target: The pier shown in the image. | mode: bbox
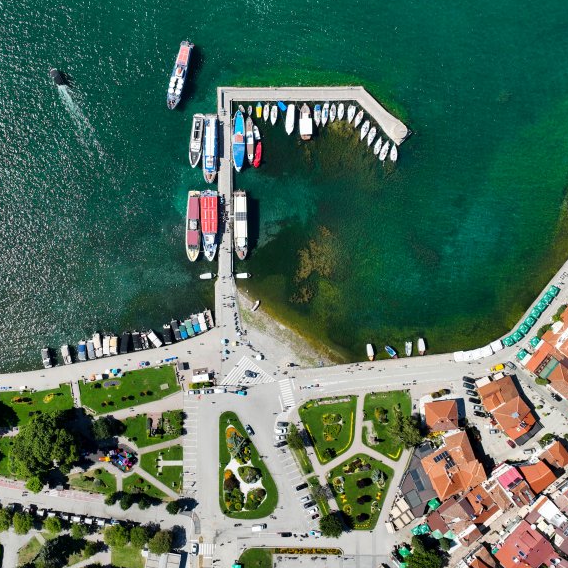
[216,86,411,278]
